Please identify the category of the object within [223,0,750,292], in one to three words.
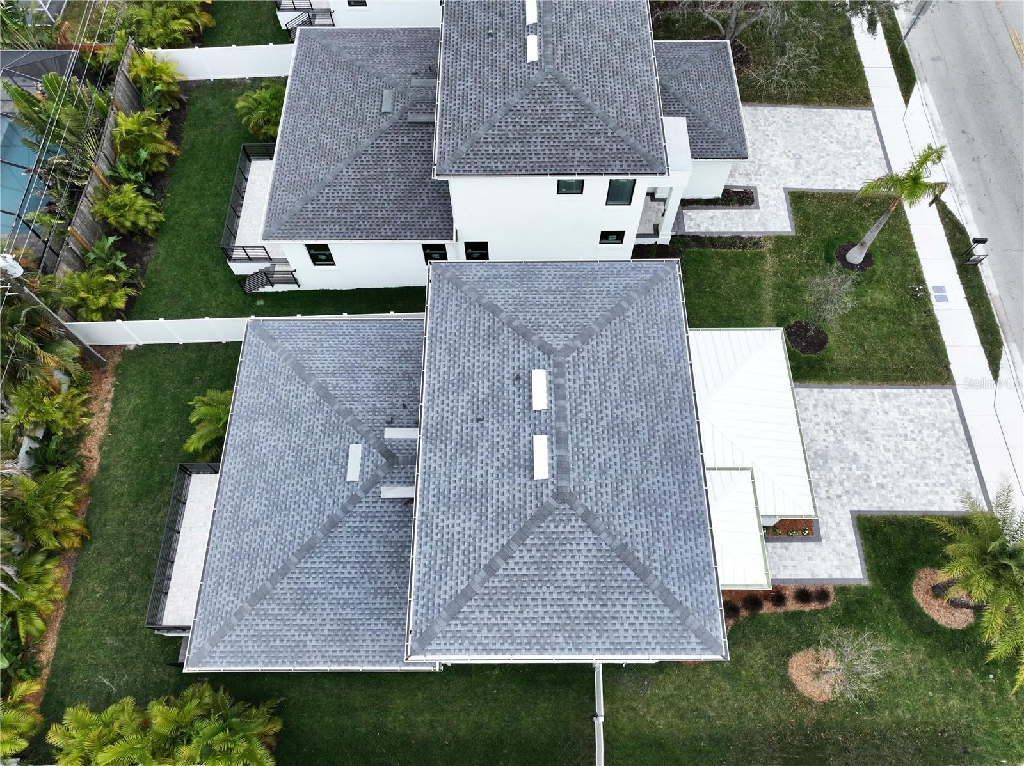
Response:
house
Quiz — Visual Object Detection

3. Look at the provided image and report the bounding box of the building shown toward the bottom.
[146,259,819,673]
